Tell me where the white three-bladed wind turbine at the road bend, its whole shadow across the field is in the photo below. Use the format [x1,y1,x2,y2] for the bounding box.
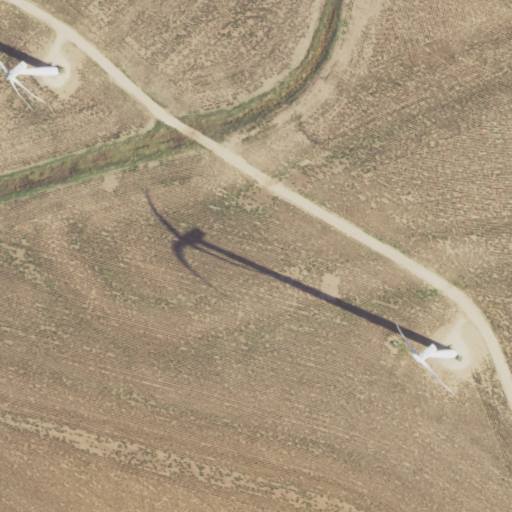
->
[392,316,458,399]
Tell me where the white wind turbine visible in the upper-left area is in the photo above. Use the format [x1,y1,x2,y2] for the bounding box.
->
[0,60,59,110]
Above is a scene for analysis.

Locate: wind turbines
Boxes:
[392,316,458,399]
[0,60,59,110]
